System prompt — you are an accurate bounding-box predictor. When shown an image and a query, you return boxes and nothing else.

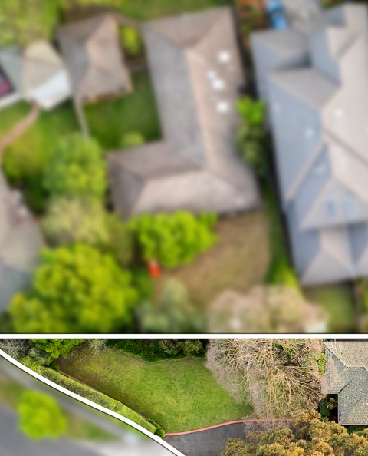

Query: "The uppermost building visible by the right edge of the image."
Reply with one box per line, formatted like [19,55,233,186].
[249,1,368,286]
